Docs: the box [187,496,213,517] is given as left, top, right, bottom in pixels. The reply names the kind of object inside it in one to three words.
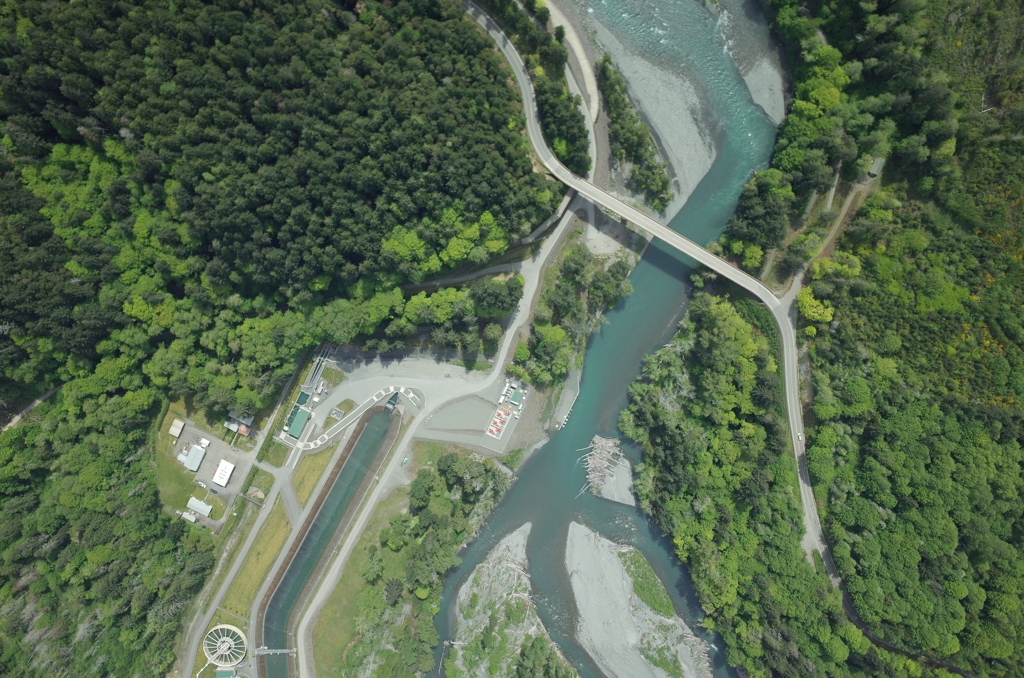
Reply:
house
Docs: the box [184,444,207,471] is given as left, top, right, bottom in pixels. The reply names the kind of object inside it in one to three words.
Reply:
building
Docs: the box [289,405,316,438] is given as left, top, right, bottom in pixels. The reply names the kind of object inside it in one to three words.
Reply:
building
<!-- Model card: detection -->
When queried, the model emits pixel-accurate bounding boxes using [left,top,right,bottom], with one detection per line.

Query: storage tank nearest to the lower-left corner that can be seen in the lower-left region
[196,623,249,678]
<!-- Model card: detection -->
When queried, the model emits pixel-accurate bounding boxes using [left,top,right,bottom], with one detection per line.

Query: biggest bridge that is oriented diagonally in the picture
[542,153,785,315]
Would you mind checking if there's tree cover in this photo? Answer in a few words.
Yes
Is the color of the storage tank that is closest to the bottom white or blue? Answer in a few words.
white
